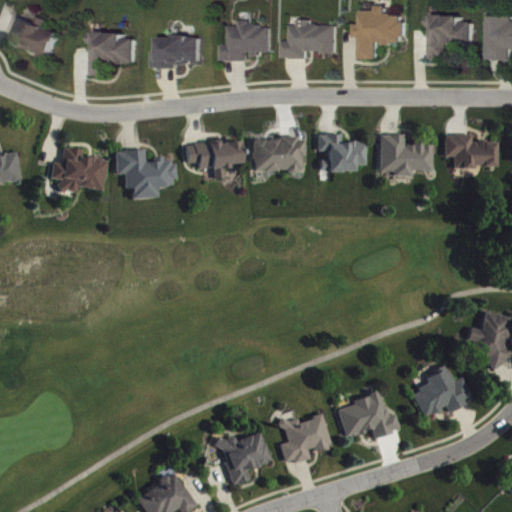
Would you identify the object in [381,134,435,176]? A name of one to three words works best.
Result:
house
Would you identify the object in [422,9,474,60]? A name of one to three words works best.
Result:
house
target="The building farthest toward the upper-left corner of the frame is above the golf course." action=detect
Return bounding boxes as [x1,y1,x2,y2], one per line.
[8,16,58,54]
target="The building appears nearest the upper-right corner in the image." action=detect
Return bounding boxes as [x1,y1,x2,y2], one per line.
[484,17,512,62]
